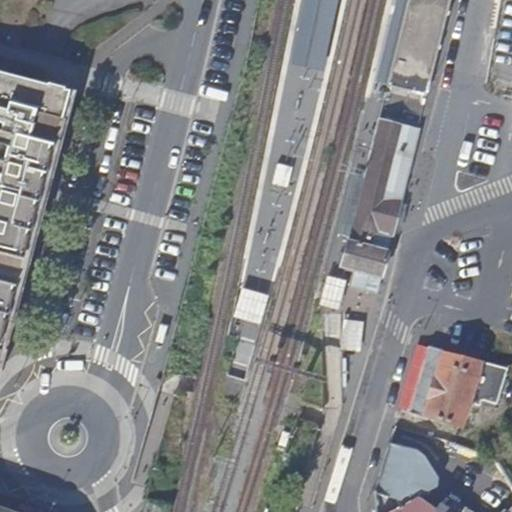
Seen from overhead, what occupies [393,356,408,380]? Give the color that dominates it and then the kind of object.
gray car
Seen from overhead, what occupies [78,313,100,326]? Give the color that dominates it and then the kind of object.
white vehicle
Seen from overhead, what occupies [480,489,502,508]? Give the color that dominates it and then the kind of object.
white car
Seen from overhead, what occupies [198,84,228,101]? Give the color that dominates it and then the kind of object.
white vehicle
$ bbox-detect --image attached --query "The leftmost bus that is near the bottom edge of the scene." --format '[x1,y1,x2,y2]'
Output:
[326,447,354,504]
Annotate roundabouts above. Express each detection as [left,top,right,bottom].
[0,355,150,512]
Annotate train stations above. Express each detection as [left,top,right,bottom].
[352,119,420,237]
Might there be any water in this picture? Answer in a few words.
No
